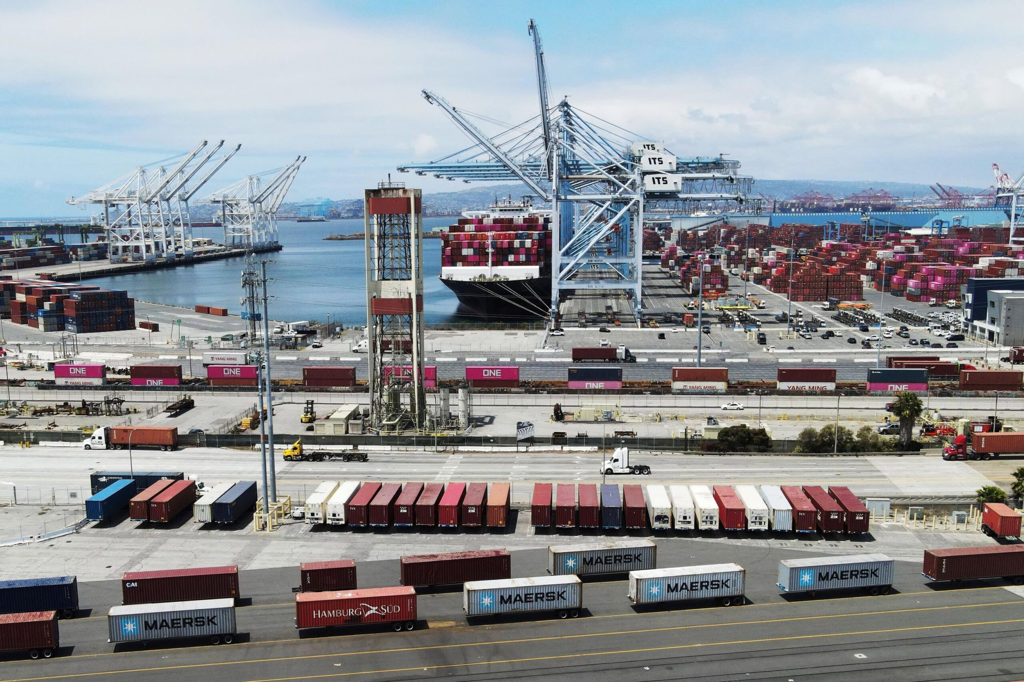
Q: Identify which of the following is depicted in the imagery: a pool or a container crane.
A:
container crane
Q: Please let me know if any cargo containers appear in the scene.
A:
Yes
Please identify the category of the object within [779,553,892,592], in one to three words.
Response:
shipping container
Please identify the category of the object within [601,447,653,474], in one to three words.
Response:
truck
